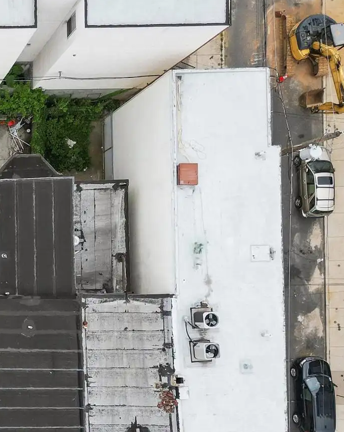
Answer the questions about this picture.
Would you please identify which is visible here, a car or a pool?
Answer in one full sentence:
There is a car in the scene.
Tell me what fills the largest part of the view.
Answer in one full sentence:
The bulk of the photo consists of buildings.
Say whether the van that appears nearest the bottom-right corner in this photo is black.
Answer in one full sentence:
Yes, the van that appears nearest the bottom-right corner appears black.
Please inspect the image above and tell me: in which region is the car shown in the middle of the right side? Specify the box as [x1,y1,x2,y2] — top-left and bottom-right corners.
[292,148,336,220]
